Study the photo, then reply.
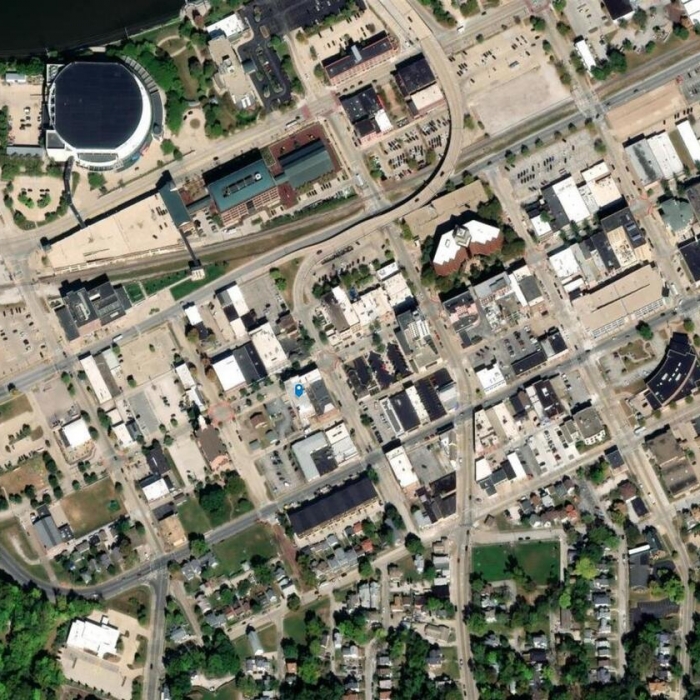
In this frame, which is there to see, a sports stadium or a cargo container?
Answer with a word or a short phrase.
sports stadium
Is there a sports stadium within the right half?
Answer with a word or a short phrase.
No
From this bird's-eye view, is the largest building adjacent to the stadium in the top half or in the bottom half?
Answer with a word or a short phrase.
top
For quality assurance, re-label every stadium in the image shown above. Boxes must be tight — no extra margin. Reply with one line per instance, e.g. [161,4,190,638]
[46,53,164,176]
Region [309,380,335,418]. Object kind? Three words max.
building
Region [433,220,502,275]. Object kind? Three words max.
building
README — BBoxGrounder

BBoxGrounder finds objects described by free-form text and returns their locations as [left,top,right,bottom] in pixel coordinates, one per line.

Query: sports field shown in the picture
[472,541,561,582]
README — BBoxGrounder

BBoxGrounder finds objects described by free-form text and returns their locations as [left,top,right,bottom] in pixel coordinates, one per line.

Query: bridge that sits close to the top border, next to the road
[294,0,466,262]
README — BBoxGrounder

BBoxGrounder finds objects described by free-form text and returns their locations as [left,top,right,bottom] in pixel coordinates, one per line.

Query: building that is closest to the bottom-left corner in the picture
[66,620,122,662]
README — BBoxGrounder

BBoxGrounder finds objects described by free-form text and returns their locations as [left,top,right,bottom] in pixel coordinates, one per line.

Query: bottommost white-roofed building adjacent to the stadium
[50,193,181,275]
